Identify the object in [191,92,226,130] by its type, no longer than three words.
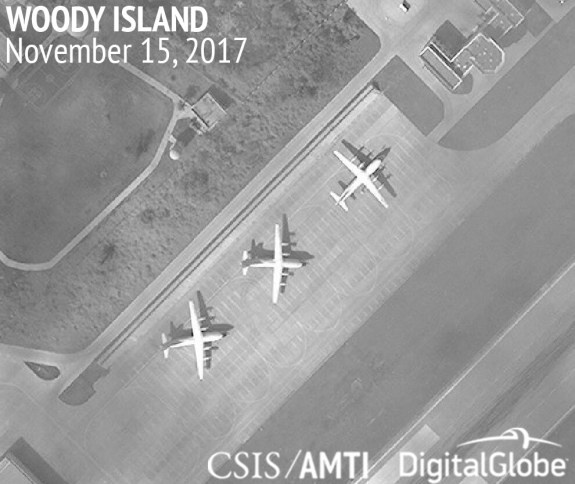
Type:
house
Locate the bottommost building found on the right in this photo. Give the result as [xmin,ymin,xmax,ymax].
[421,31,503,90]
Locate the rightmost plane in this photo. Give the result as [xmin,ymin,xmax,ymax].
[328,150,390,211]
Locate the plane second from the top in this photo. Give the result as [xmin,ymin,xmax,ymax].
[242,225,311,303]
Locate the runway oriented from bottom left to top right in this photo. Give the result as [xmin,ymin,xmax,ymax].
[355,264,575,484]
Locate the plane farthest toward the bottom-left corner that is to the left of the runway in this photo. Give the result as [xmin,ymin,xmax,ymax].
[161,302,230,379]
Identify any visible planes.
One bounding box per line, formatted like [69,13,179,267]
[328,150,390,211]
[161,302,230,379]
[242,225,311,303]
